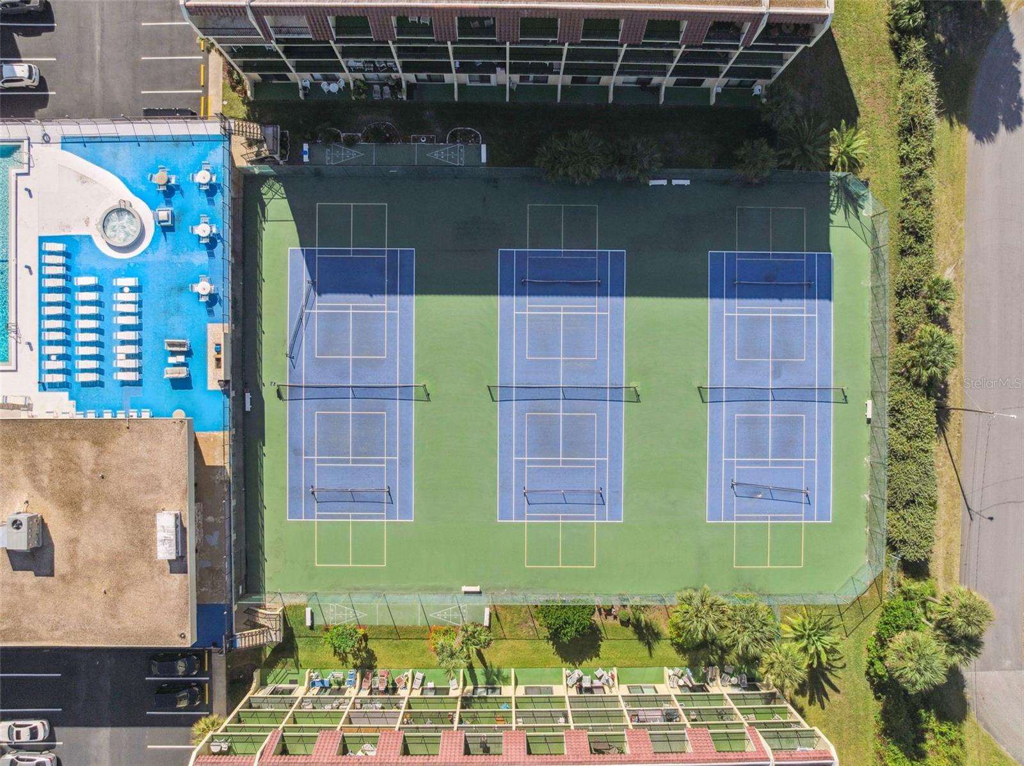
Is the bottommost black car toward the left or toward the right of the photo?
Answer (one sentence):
You can find the bottommost black car on the left side of the picture.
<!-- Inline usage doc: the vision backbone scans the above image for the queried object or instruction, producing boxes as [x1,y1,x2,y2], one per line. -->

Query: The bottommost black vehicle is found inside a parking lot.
[156,684,207,711]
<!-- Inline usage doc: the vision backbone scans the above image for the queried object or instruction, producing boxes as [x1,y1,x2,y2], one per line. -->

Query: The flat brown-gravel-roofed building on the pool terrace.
[0,418,198,650]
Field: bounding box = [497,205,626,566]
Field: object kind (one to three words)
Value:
tennis court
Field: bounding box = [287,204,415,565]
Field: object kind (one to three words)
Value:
tennis court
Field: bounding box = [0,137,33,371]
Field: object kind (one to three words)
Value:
swimming pool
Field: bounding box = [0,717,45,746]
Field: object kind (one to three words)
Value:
car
